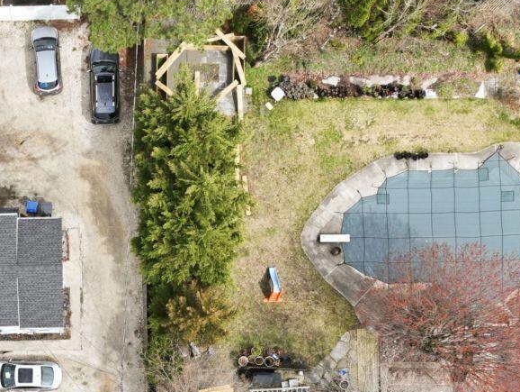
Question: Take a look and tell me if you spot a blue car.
No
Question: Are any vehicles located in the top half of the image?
Yes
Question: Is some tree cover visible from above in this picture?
Yes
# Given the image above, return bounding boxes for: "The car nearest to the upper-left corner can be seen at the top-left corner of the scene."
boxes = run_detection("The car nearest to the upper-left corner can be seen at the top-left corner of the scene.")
[28,28,63,100]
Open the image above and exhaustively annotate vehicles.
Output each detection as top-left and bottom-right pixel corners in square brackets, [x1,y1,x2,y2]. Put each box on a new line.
[84,50,123,128]
[0,357,63,392]
[28,28,63,100]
